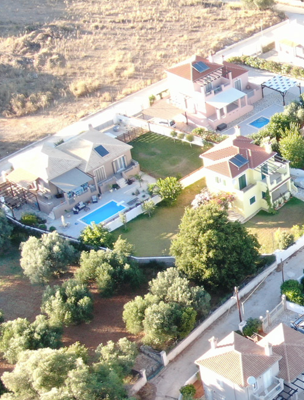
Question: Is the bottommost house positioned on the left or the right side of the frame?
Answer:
right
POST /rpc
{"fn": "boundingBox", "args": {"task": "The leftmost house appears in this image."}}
[6,122,132,217]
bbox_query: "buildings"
[165,54,264,123]
[194,321,304,400]
[204,126,294,213]
[6,122,132,217]
[272,19,304,63]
